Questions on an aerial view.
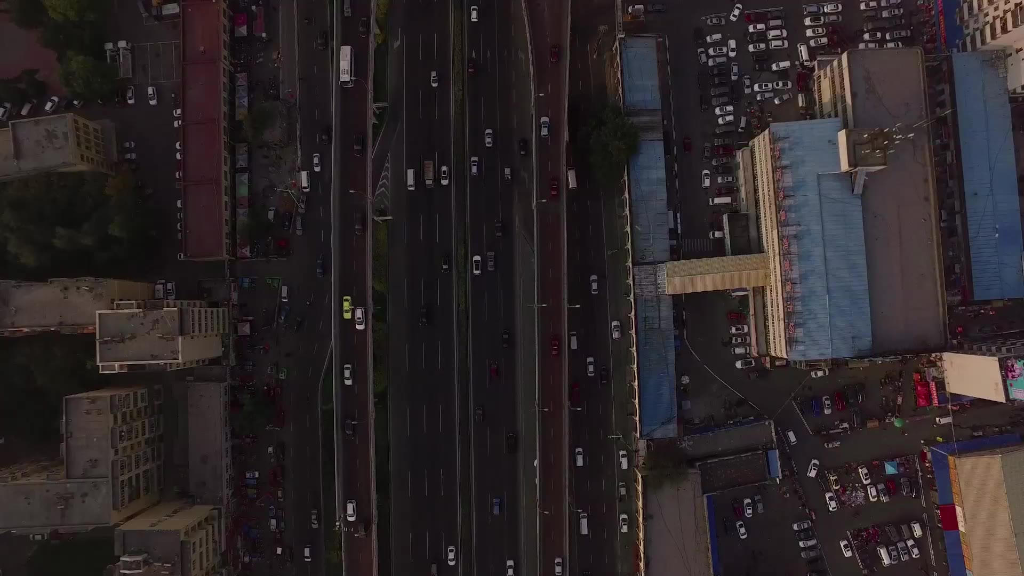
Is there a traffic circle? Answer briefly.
No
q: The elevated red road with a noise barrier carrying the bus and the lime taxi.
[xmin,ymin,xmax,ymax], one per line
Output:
[326,0,382,576]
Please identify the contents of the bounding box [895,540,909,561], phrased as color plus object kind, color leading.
gray car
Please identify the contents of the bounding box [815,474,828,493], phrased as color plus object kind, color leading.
black vehicle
